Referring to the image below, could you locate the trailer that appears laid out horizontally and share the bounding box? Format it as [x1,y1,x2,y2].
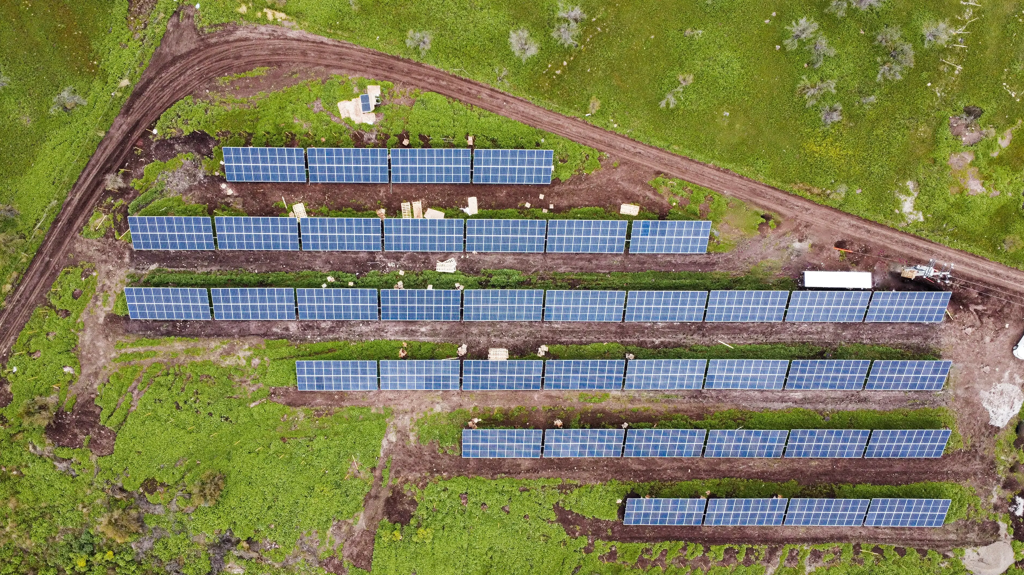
[792,271,871,288]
